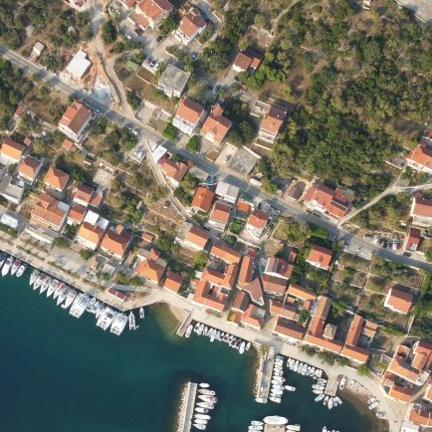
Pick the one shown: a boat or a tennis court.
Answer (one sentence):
There is a boat in the scene.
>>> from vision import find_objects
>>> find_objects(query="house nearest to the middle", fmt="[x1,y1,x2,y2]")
[207,201,231,232]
